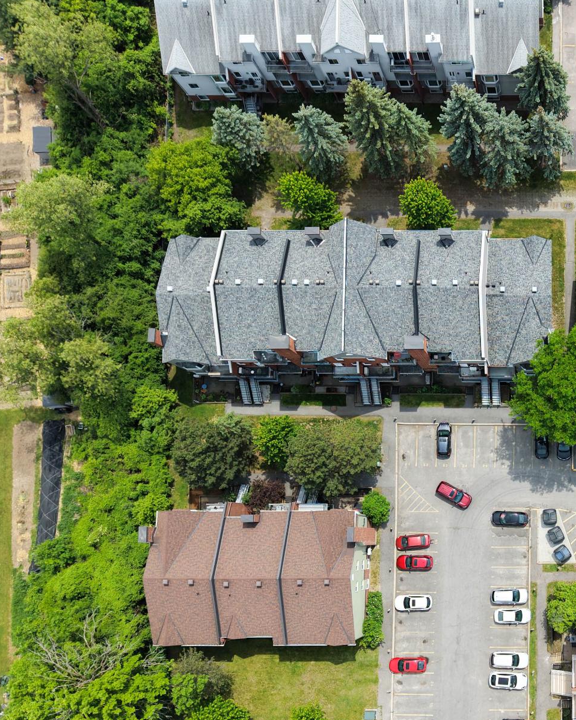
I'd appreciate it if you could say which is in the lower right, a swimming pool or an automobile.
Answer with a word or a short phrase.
automobile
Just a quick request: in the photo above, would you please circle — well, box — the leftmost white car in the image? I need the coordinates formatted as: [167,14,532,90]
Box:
[396,595,431,612]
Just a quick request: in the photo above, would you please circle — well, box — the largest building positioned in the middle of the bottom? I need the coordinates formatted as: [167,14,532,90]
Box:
[139,483,379,648]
